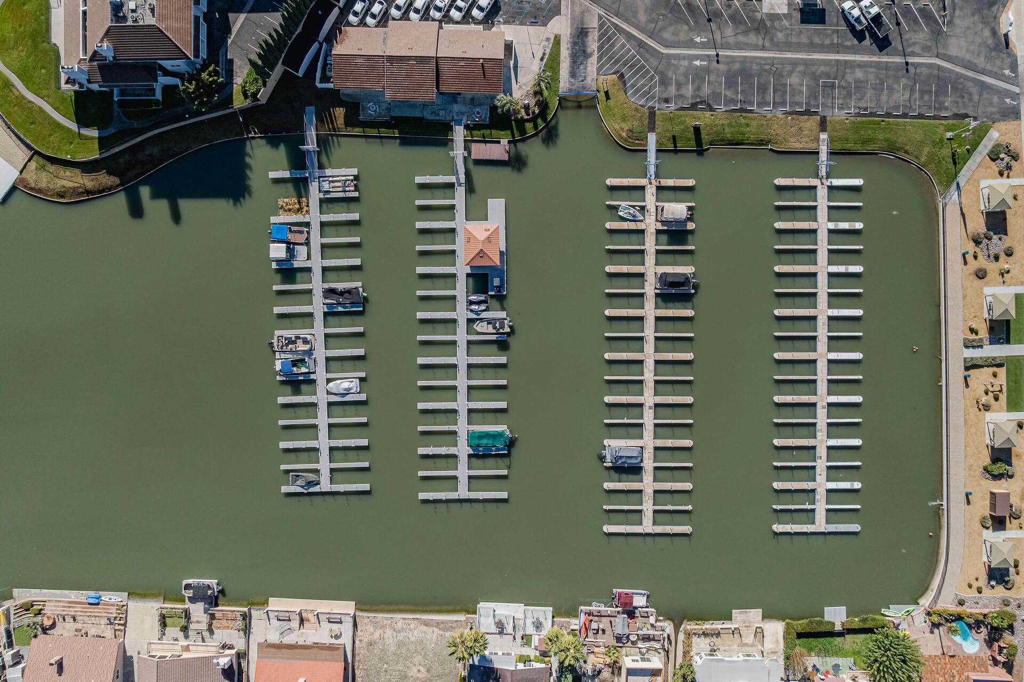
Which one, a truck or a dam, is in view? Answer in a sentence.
It is a truck that can be seen here.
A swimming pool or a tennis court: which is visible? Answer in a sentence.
This aerial view contains a swimming pool.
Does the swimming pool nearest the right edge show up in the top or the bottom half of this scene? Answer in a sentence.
It is in the bottom half that the swimming pool nearest the right edge appears.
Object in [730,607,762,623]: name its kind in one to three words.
pier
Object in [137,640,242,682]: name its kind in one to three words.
house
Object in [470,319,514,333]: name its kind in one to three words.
boat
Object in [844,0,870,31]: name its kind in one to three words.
truck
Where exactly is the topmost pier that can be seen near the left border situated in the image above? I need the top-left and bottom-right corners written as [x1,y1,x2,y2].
[0,159,22,206]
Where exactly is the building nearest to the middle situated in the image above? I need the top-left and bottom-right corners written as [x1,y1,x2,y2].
[464,199,506,295]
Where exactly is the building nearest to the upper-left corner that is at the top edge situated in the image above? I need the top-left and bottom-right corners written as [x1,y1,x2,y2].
[60,0,218,103]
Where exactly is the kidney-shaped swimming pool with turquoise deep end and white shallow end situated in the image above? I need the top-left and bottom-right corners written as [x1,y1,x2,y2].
[951,620,981,655]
